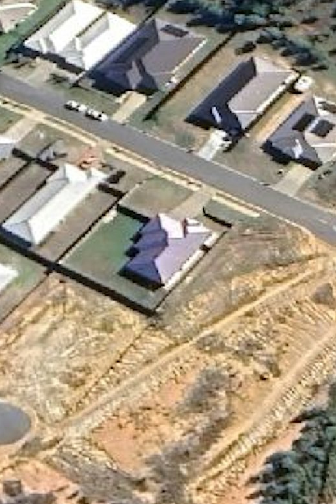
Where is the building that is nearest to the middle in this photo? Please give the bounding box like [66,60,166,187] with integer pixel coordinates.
[121,207,216,295]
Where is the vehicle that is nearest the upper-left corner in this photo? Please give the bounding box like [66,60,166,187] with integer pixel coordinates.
[67,98,89,111]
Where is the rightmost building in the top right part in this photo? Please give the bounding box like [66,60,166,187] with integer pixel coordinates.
[264,94,336,173]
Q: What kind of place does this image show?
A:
residential area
